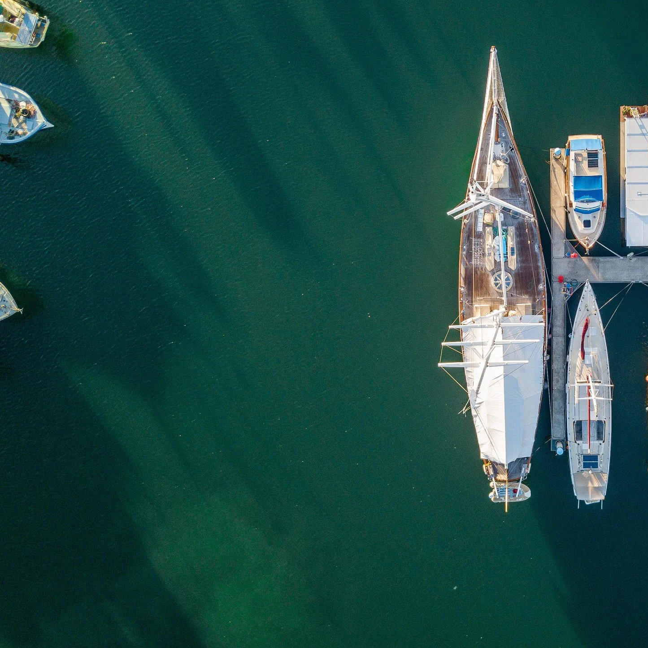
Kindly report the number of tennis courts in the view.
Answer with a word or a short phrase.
0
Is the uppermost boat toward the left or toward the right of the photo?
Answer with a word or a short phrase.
left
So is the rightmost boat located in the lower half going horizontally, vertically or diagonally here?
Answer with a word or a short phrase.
vertically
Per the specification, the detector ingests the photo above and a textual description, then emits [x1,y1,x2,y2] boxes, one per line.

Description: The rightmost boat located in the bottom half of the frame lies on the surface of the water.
[566,280,614,509]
